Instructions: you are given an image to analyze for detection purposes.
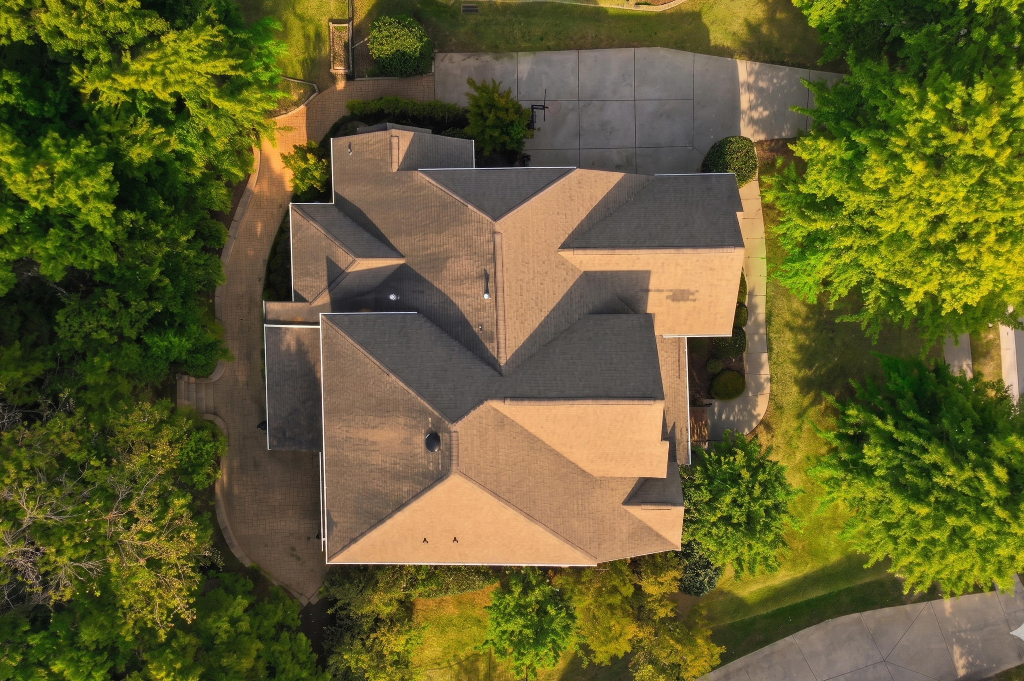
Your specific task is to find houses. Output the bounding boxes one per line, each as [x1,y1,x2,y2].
[260,124,746,568]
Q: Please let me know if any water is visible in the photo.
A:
No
